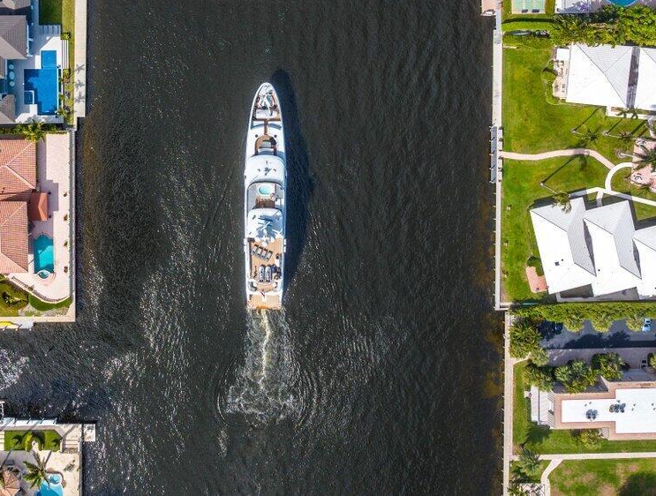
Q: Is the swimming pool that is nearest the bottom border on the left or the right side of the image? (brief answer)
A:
left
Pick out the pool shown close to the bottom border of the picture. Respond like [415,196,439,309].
[35,473,64,496]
